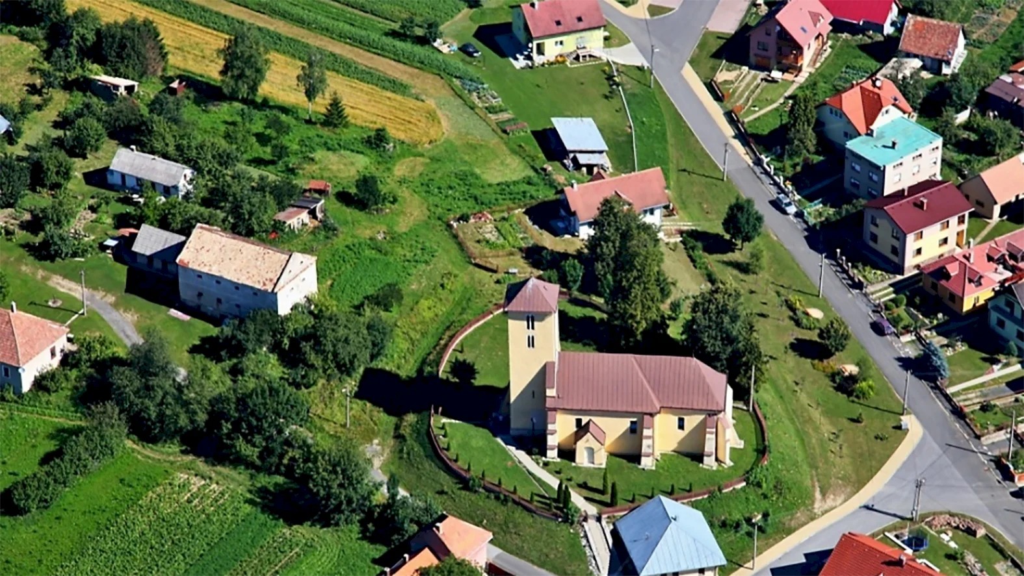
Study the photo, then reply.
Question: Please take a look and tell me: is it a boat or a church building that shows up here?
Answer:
church building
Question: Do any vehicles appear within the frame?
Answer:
Yes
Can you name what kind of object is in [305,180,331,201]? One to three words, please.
shed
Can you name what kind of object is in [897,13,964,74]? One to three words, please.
house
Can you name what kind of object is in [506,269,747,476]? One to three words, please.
church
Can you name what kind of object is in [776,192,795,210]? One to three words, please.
car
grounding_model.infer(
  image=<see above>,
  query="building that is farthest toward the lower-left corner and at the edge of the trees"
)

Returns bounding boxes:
[0,301,66,391]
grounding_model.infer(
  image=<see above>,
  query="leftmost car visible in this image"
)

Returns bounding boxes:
[456,39,480,54]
